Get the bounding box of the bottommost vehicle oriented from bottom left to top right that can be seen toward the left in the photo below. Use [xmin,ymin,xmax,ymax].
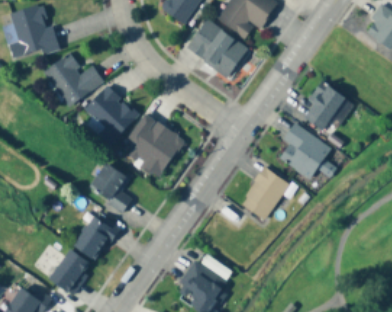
[113,281,126,297]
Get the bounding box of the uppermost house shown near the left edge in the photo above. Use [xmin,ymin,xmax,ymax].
[10,4,61,58]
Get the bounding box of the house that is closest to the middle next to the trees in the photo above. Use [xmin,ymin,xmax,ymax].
[128,115,187,177]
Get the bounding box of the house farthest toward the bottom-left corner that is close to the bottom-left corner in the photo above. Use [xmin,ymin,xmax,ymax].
[6,288,48,312]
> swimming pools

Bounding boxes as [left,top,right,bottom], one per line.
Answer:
[74,196,88,209]
[274,208,286,222]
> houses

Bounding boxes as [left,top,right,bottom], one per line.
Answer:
[74,213,118,260]
[10,4,61,58]
[164,0,202,25]
[277,124,332,178]
[306,82,346,126]
[6,288,48,312]
[188,18,249,76]
[83,84,139,133]
[179,258,222,312]
[128,115,187,177]
[216,0,278,36]
[49,249,89,292]
[368,3,392,46]
[90,162,135,215]
[44,52,102,104]
[242,167,290,220]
